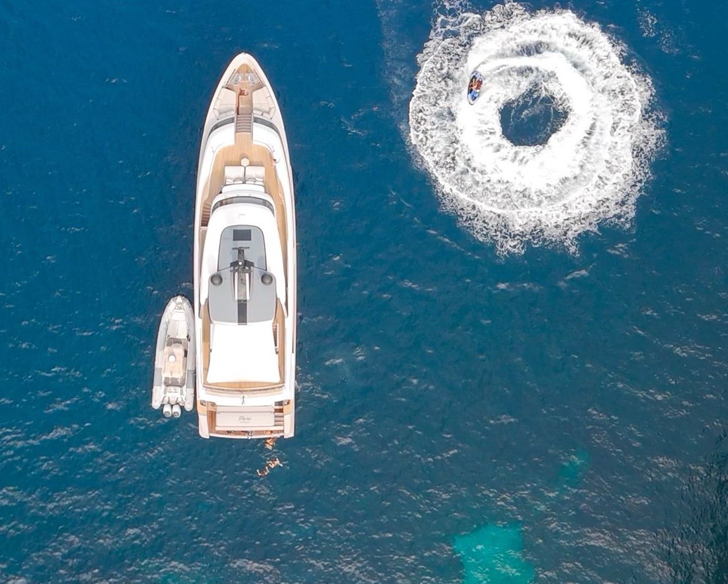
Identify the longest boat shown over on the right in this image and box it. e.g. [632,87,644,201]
[468,70,484,104]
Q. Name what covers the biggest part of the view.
water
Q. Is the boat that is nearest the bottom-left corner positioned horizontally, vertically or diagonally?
vertically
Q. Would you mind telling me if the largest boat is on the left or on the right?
left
